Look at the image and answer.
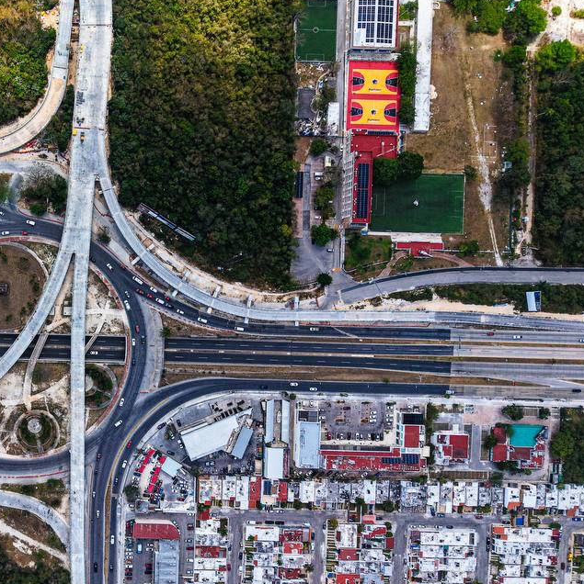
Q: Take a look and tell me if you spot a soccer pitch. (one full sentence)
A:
Yes, looking at the shot, I can spot a soccer pitch.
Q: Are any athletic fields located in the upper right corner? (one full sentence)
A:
Yes, in the upper right corner there is an athletic field.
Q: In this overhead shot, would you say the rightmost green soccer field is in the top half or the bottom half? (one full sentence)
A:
The top half of the photo is where the rightmost green soccer field is.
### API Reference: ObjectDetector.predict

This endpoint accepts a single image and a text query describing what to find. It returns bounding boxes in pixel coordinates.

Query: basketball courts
[351,99,399,124]
[352,69,400,94]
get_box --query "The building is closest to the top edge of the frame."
[349,0,397,51]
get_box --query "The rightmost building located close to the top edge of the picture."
[412,0,432,132]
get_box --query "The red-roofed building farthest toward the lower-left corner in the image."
[132,522,179,539]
